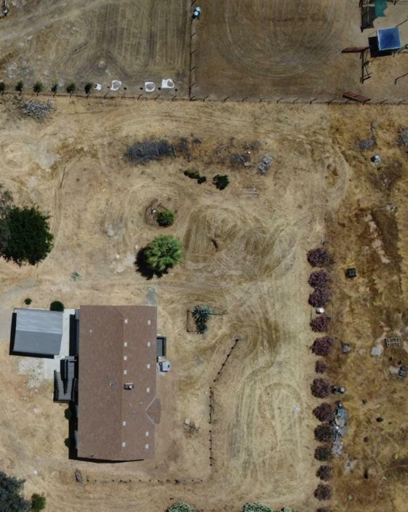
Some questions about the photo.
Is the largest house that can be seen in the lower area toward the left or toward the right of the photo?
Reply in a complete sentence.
You can find the largest house that can be seen in the lower area on the left side of the picture.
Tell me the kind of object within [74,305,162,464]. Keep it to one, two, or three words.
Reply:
house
